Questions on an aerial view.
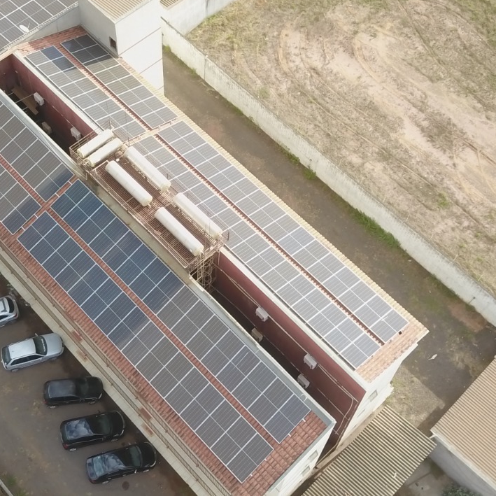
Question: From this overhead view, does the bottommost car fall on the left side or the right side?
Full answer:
The bottommost car is on the left side of the image.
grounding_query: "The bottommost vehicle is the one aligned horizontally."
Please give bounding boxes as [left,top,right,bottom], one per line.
[82,442,157,487]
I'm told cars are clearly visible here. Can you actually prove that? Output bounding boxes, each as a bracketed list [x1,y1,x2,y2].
[0,295,21,328]
[57,409,127,450]
[82,442,157,487]
[0,331,63,370]
[40,371,106,410]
